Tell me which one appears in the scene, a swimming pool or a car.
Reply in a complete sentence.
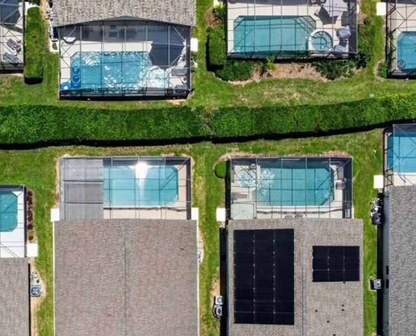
Visible in the photo is a swimming pool.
